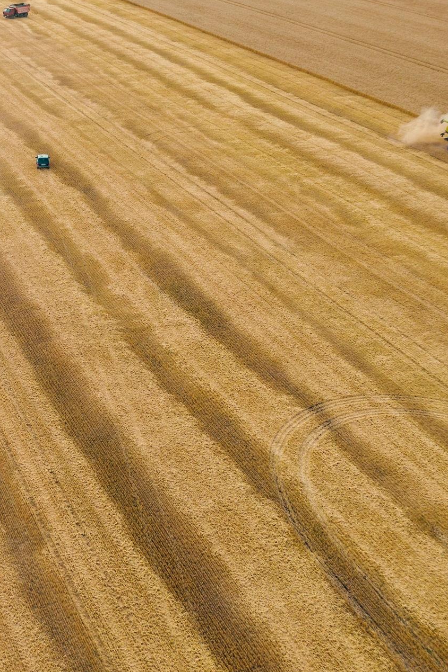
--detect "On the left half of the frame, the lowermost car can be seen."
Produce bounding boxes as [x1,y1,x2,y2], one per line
[36,152,52,166]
